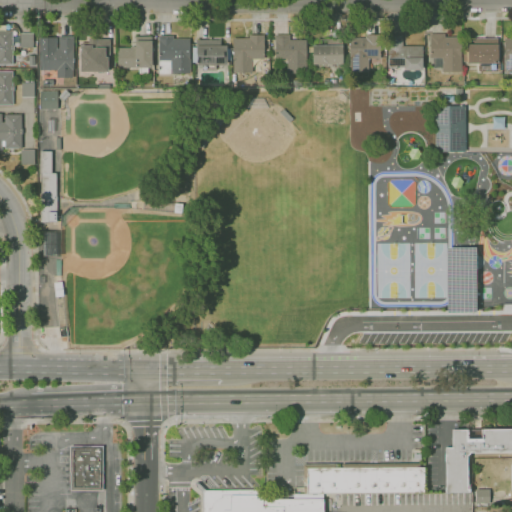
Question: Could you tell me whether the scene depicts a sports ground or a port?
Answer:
sports ground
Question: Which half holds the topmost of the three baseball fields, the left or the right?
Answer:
left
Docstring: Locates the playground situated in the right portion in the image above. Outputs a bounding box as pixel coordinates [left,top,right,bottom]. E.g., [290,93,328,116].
[371,107,512,310]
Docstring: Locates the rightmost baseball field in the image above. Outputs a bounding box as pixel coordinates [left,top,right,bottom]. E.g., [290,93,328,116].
[166,90,369,348]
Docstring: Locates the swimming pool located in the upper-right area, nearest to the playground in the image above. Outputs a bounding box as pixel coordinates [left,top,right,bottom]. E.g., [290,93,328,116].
[403,70,422,85]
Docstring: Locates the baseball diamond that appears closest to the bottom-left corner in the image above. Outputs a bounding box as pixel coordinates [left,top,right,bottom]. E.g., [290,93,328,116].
[62,207,210,350]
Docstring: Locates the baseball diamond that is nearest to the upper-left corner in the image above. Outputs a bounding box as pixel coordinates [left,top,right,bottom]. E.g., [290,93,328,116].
[62,90,208,205]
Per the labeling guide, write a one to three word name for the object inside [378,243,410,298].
basketball court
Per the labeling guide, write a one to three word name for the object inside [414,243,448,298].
basketball court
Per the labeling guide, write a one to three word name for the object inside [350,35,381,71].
house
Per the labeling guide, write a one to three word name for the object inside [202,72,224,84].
swimming pool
